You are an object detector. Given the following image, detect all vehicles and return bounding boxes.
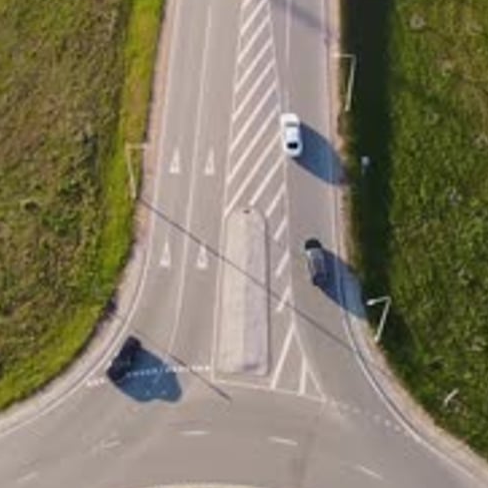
[279,117,302,157]
[103,334,144,390]
[304,241,331,290]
